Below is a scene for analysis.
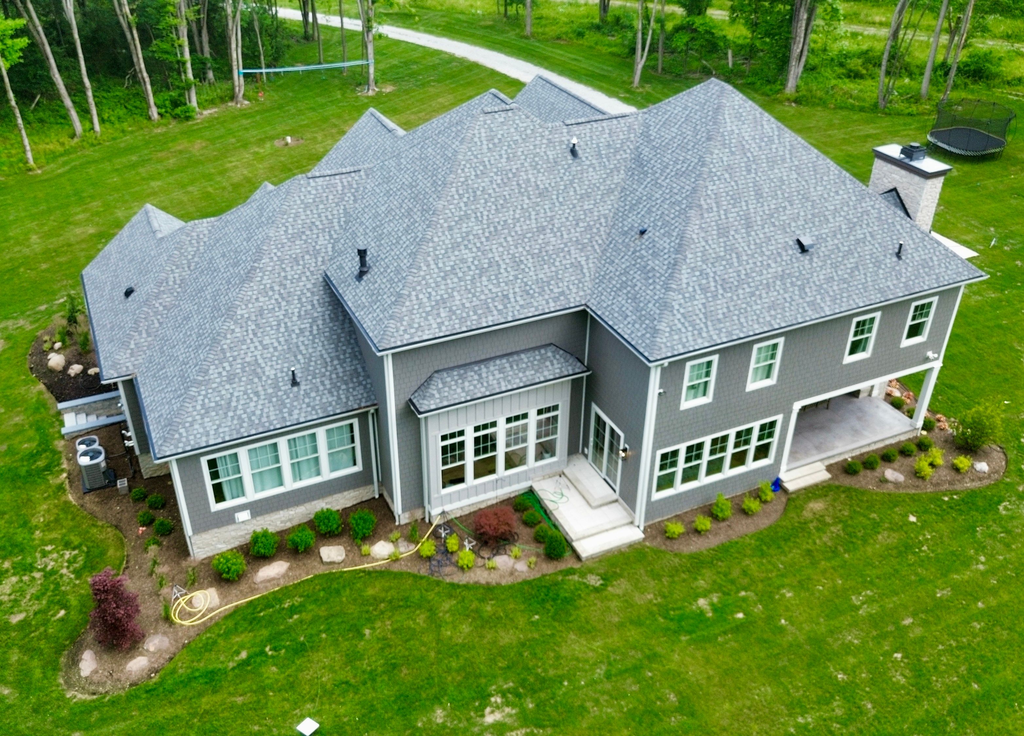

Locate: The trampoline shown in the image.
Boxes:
[927,100,1016,163]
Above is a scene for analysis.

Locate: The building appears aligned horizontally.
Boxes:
[77,73,995,560]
